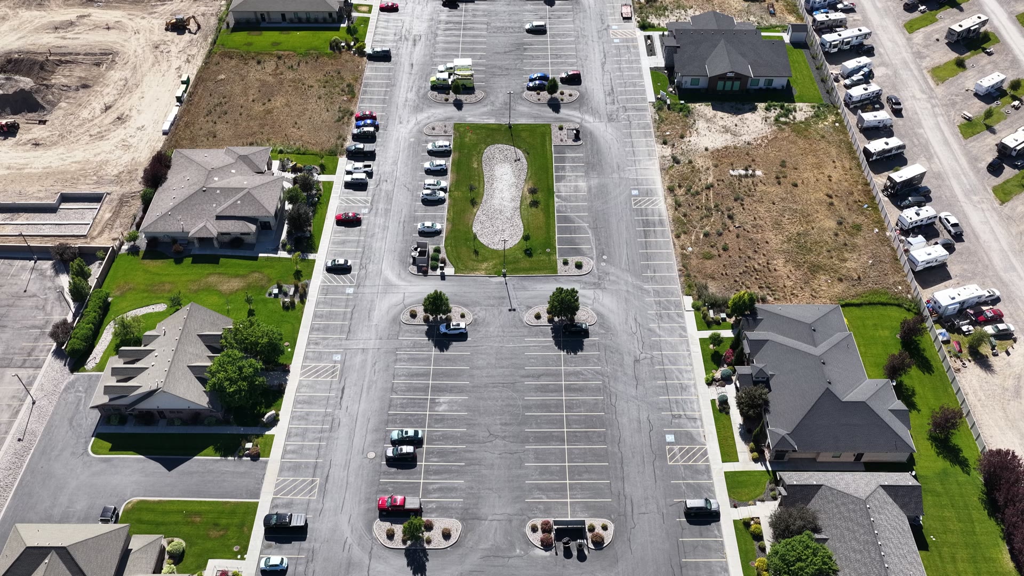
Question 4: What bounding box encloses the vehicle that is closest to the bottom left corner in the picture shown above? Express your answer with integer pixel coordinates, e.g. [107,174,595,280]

[98,495,122,523]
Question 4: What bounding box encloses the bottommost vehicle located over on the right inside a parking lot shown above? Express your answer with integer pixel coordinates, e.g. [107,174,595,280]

[682,496,721,515]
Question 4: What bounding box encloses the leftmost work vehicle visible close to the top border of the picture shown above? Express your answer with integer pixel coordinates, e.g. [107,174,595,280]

[161,13,205,33]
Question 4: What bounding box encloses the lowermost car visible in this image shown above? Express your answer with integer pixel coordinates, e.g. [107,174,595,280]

[257,552,292,570]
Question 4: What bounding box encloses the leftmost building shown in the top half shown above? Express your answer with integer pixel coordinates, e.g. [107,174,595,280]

[139,147,286,250]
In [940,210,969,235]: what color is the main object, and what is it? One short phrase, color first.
white truck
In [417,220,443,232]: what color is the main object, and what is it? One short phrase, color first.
white vehicle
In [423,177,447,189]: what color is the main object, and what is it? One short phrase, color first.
white vehicle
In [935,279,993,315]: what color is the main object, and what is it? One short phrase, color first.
white trailer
